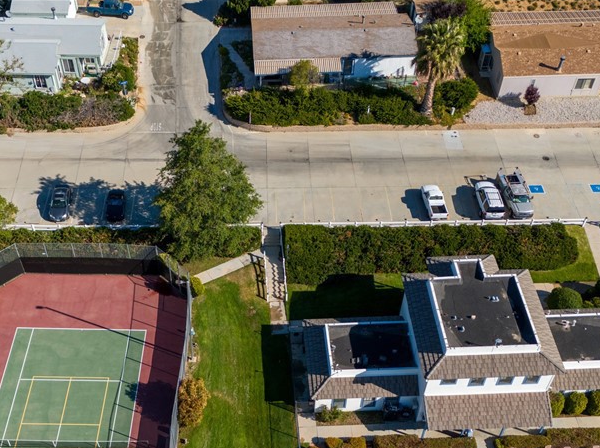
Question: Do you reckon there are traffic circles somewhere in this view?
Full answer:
No, I can see no traffic circle in this picture.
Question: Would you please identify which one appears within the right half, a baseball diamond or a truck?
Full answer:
Looking within the right half, you will find a truck.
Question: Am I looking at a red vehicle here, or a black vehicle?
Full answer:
It is a black vehicle that can be seen here.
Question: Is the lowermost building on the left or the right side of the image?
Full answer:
The lowermost building appears in the right half of the scene.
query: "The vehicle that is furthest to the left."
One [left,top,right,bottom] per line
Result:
[45,182,71,220]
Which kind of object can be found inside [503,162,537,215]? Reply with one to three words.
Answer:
truck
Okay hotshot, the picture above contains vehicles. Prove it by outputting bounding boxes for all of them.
[478,184,509,219]
[424,185,452,222]
[101,185,125,222]
[45,182,71,220]
[87,0,130,19]
[503,162,537,215]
